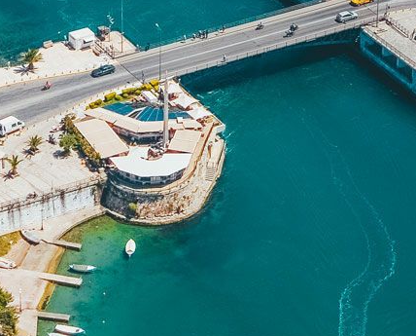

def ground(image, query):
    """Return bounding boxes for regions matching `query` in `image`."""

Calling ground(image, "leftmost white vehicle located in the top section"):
[0,116,24,135]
